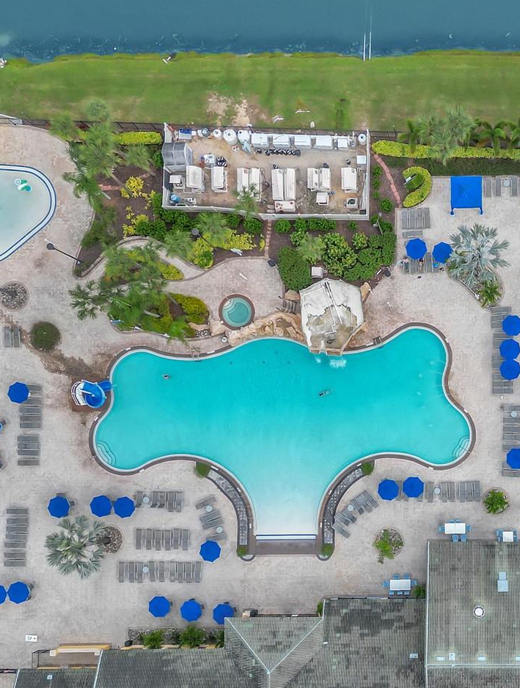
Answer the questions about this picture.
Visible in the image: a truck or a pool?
pool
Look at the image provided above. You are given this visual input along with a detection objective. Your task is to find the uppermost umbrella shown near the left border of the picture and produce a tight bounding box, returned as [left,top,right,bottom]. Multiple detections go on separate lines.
[8,381,33,404]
